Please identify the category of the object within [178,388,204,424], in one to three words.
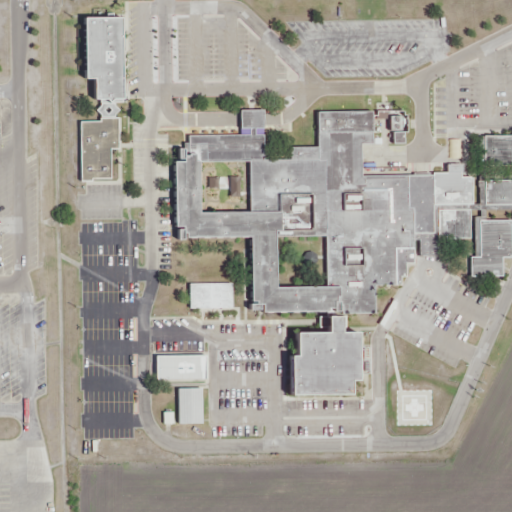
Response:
shed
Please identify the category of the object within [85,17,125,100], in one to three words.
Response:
building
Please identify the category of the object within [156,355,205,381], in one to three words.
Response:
building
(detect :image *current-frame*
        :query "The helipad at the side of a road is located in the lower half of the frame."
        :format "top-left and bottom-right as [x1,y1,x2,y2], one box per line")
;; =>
[396,390,433,426]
